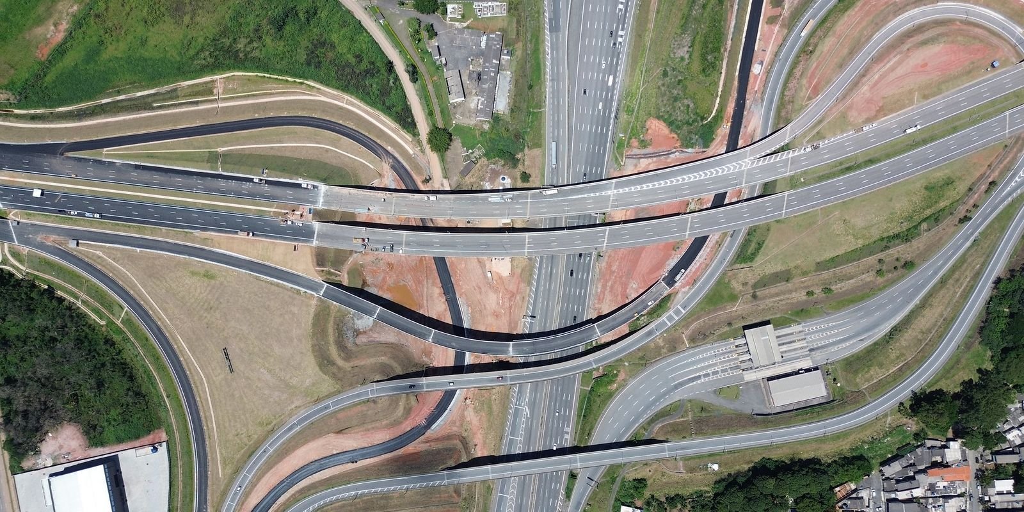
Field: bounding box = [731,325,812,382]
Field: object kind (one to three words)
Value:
toll station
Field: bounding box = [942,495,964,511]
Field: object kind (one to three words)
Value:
house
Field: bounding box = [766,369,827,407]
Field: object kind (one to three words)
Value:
building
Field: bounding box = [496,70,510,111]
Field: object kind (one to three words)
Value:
shed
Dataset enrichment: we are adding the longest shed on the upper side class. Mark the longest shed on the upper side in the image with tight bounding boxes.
[477,32,502,120]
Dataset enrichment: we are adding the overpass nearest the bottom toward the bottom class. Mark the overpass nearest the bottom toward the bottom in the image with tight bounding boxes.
[445,443,668,485]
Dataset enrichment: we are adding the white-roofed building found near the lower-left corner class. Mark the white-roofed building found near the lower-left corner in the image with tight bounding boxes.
[41,460,125,512]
